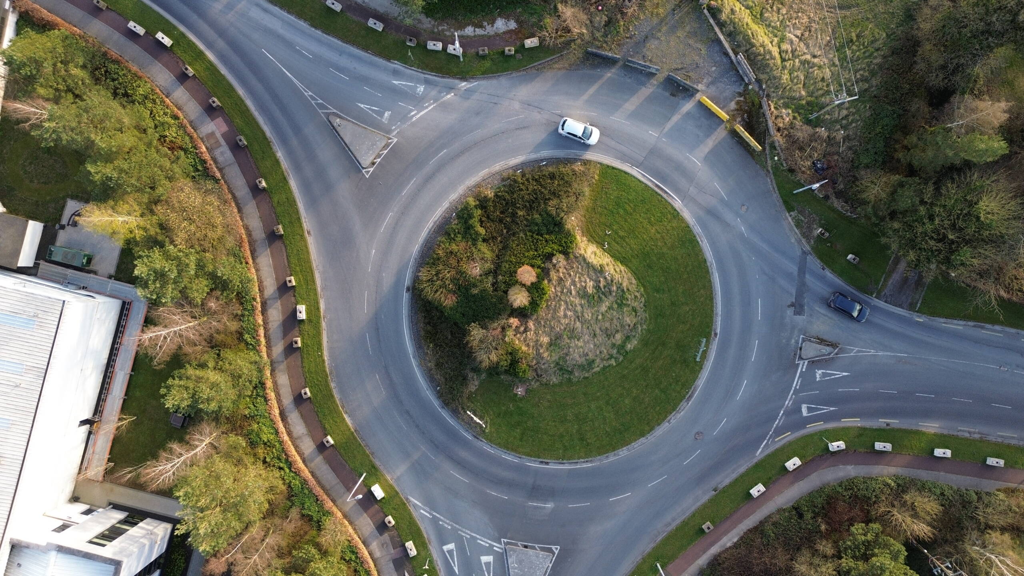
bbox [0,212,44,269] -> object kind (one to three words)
shed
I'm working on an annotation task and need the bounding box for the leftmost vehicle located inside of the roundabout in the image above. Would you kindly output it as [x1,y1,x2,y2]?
[558,117,601,145]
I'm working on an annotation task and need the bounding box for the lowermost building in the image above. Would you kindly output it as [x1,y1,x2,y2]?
[0,501,173,576]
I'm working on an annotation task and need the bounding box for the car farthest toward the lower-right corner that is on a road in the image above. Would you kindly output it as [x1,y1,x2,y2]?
[824,290,870,323]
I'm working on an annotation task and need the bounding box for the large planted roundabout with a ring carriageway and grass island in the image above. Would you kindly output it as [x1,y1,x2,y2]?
[331,78,793,540]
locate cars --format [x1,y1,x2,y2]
[558,117,601,145]
[824,290,870,323]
